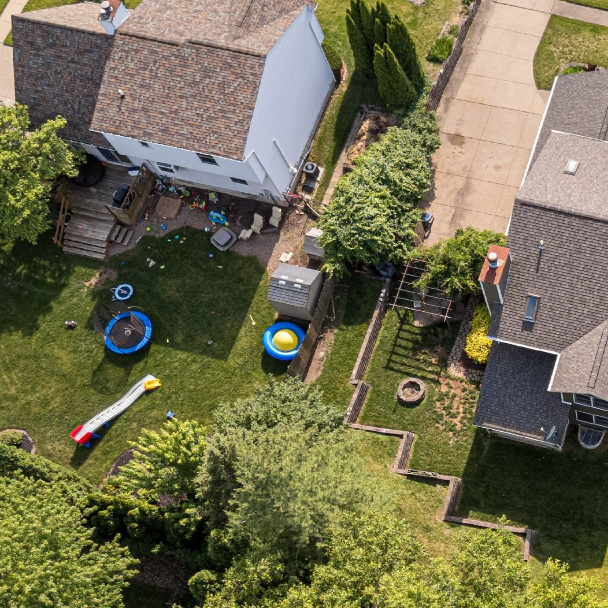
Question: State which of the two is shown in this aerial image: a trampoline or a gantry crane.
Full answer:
The image shows a trampoline.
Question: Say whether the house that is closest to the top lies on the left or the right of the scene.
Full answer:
It is on the left.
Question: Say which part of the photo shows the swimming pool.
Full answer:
The swimming pool sits in the center section of the image.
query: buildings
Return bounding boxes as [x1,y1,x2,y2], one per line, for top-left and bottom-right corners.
[473,64,608,460]
[13,0,342,208]
[265,261,321,318]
